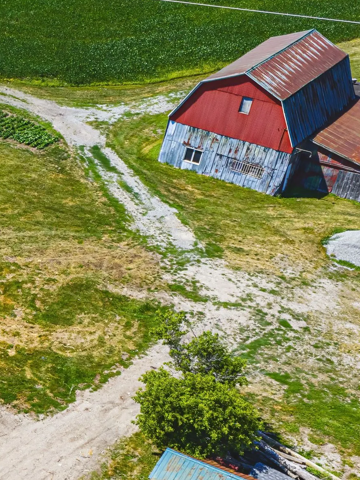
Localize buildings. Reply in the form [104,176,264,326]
[158,26,358,198]
[150,448,250,480]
